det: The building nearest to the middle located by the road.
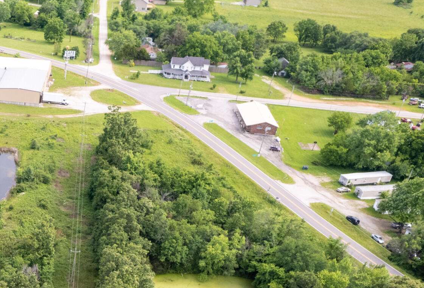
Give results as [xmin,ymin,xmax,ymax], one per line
[234,100,279,136]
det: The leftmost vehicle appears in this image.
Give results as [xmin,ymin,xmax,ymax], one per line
[42,91,72,106]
